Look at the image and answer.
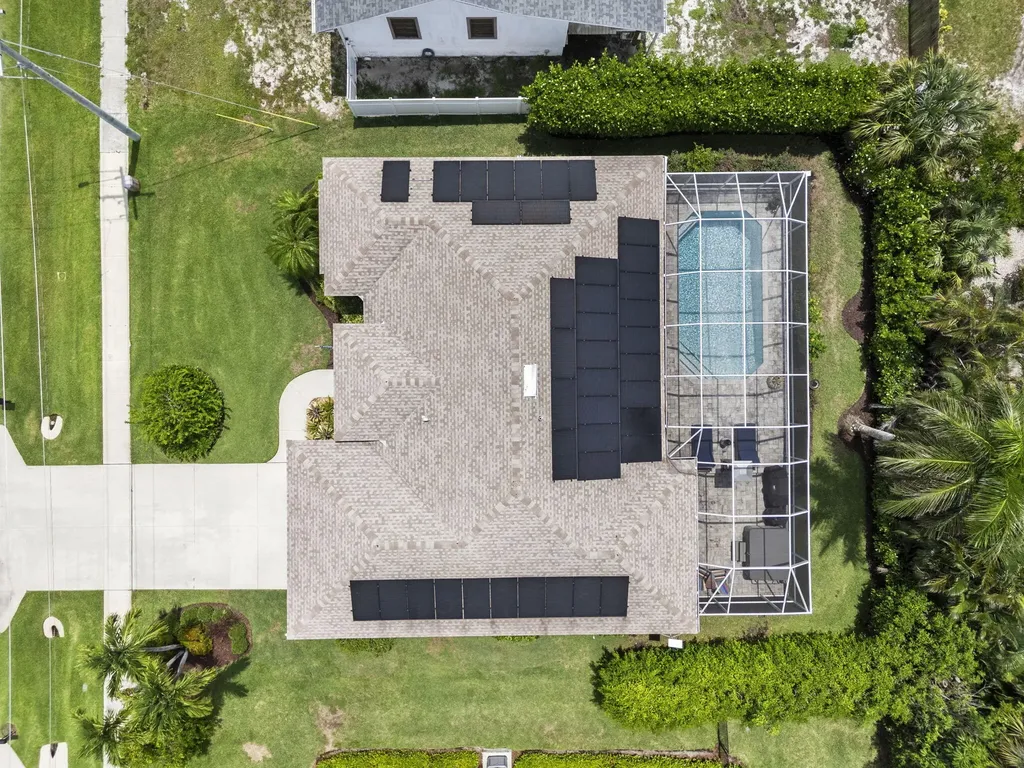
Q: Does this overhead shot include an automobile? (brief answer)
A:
No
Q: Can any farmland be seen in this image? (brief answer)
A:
No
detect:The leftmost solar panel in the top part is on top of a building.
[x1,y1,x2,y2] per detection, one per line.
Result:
[380,161,411,202]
